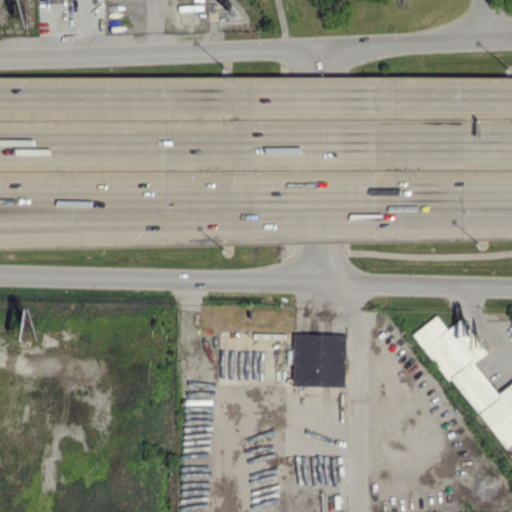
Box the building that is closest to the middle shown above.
[294,333,346,386]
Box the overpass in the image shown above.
[283,78,351,244]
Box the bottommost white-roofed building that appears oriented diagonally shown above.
[414,316,512,450]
